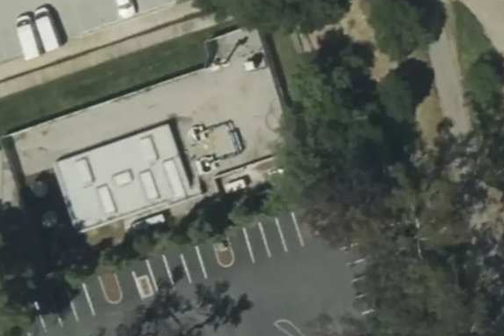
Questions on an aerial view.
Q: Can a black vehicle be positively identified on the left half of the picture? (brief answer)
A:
No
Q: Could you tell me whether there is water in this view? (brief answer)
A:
No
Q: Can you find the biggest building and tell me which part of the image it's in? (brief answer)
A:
left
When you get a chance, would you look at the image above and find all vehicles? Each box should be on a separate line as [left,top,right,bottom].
[118,0,137,16]
[39,6,64,54]
[19,13,43,59]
